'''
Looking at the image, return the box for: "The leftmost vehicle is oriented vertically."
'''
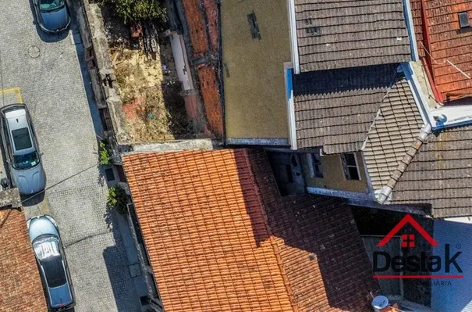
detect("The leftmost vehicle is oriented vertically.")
[0,102,47,198]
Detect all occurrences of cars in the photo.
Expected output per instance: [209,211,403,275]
[31,0,69,33]
[0,102,47,198]
[26,213,80,312]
